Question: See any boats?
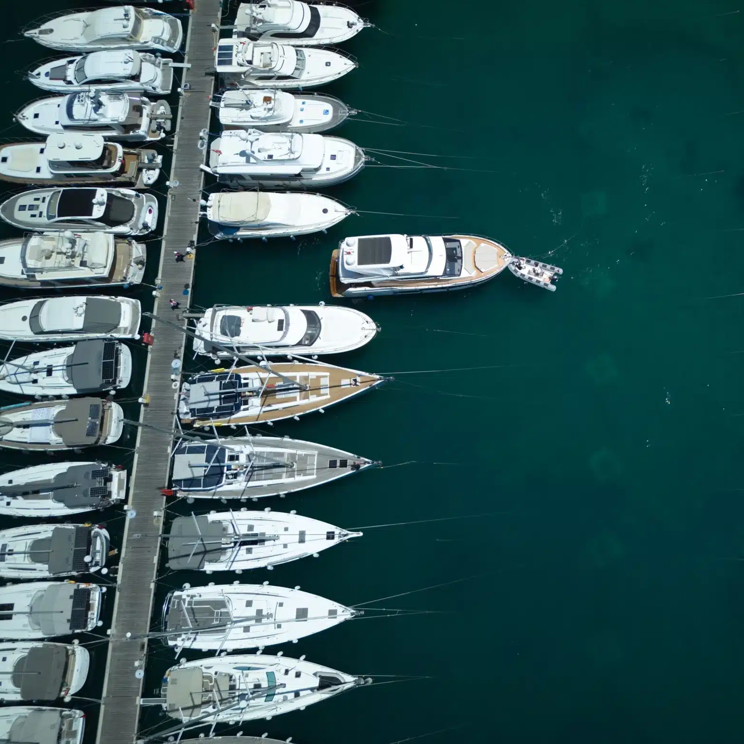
Yes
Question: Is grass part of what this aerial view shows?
No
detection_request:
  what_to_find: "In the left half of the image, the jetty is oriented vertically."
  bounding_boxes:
[97,0,226,744]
